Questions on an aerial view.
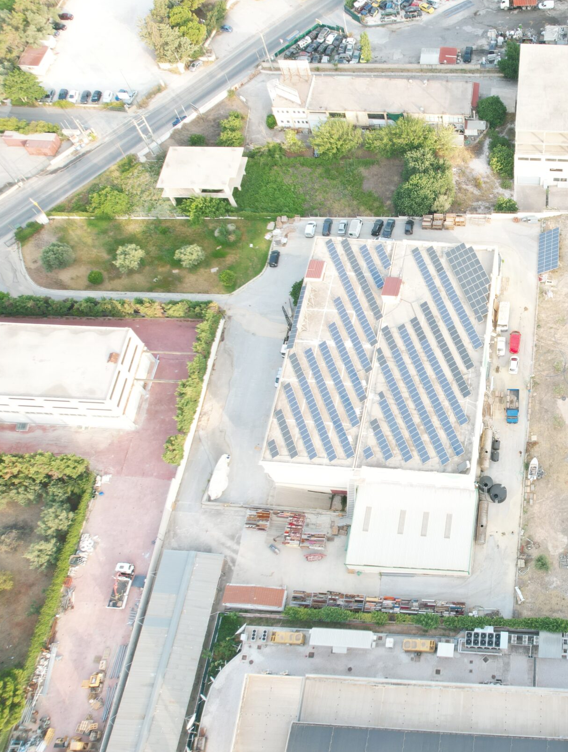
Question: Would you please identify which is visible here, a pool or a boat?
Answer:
boat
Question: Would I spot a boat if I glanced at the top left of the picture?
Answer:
No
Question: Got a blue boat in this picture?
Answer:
No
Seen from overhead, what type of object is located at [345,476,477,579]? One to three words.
building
